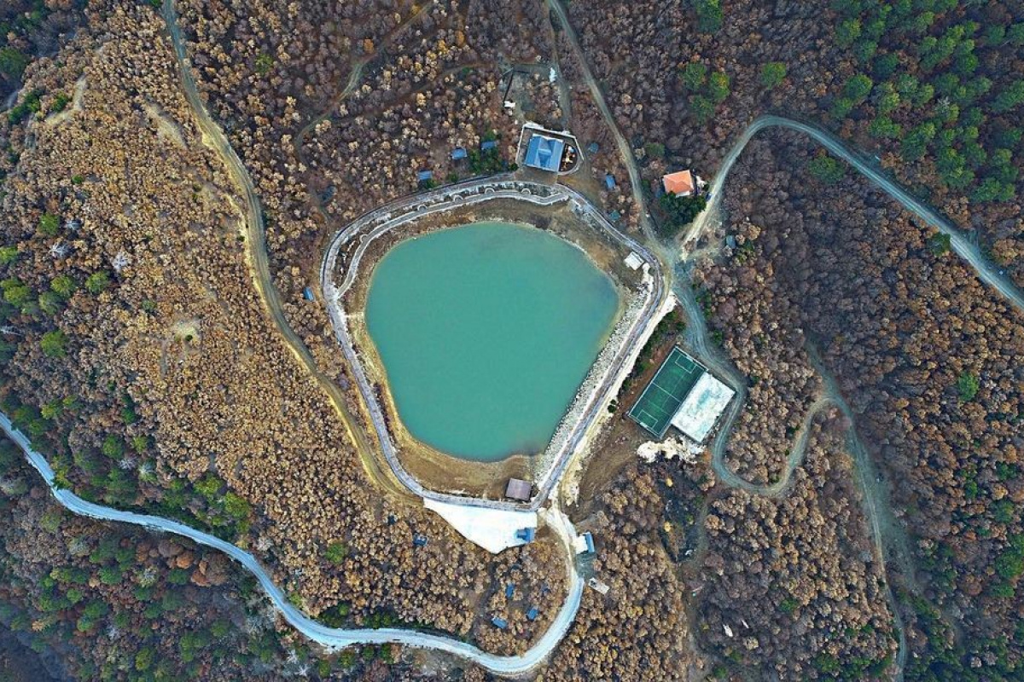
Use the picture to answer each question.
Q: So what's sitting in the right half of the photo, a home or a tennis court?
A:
home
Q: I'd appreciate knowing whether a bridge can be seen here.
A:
No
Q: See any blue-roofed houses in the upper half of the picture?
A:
Yes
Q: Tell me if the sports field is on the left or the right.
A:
right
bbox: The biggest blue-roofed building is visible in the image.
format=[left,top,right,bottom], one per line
[525,133,565,173]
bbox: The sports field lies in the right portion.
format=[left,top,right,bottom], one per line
[627,345,709,438]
